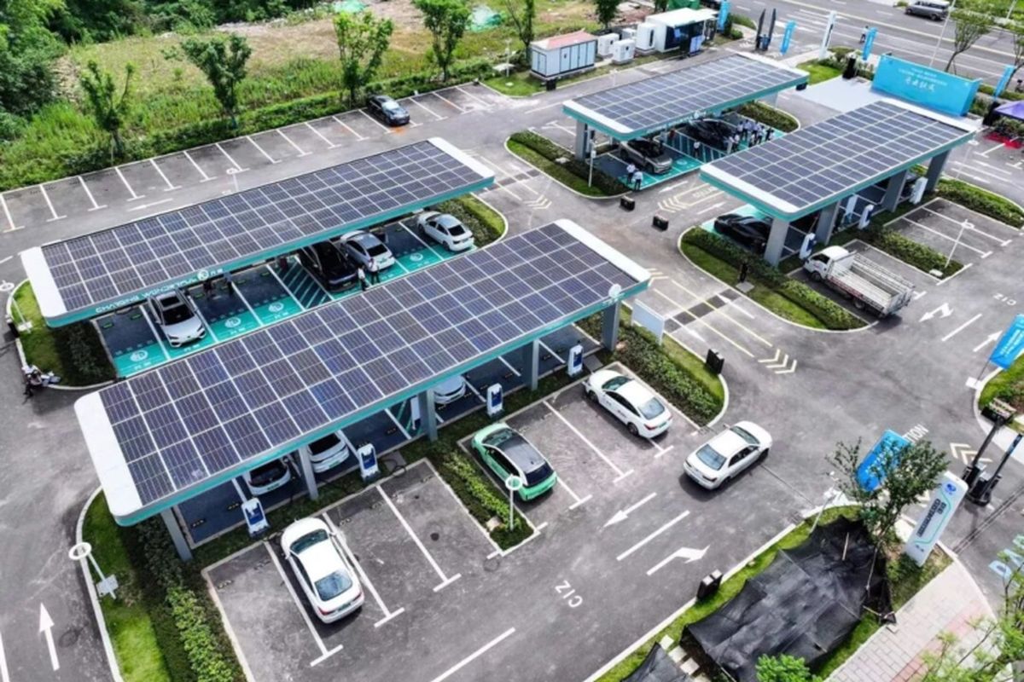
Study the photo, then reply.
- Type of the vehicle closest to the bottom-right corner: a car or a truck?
car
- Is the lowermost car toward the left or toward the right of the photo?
left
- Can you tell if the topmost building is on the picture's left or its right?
right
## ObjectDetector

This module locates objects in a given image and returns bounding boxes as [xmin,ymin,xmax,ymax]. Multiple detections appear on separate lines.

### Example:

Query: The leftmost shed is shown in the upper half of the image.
[527,33,601,77]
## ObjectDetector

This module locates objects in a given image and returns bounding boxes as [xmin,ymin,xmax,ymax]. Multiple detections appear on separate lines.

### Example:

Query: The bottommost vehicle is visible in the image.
[279,515,364,626]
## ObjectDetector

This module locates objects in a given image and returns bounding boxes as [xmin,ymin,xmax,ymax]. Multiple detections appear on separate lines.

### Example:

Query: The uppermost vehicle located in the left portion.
[366,95,410,125]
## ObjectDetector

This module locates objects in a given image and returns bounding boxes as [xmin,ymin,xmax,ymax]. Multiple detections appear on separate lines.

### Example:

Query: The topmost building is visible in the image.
[651,3,724,50]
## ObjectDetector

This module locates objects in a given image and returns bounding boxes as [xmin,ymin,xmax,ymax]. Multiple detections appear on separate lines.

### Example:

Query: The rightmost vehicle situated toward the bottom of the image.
[685,419,771,493]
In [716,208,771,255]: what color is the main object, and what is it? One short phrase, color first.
black car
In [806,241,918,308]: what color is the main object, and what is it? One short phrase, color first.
white truck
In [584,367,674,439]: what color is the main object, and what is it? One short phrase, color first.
white car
